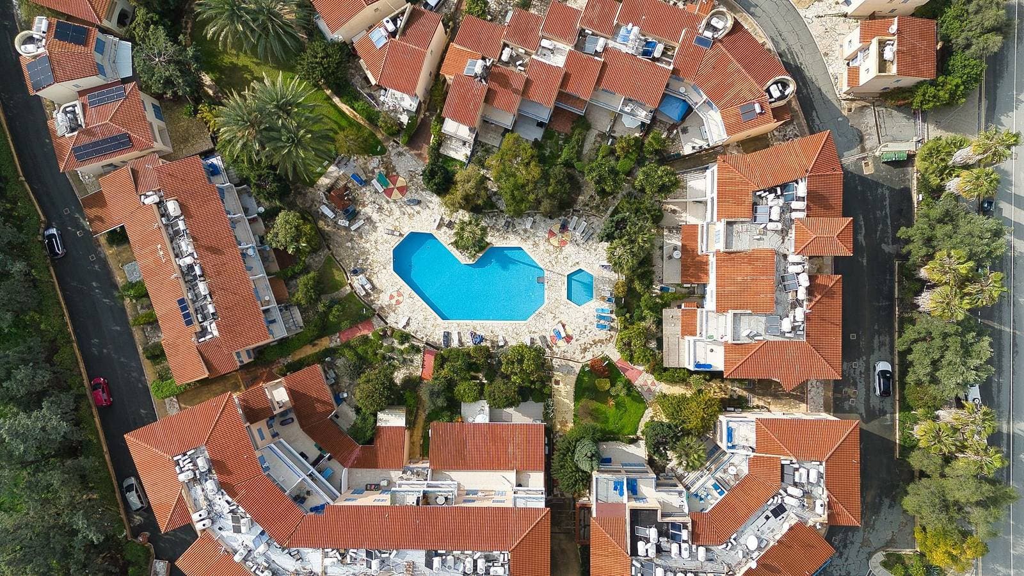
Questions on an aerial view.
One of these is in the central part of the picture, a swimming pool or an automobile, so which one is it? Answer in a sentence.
It is a swimming pool that can be seen in the central part of the picture.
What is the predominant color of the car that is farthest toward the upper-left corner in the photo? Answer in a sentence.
The car that is farthest toward the upper-left corner looks black in the image.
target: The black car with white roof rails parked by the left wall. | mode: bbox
[43,227,69,260]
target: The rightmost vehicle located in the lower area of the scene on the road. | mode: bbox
[872,360,893,397]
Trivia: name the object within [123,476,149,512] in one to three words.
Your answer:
car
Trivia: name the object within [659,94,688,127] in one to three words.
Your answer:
gazebo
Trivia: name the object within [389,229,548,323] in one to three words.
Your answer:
swimming pool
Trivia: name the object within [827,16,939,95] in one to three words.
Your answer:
house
